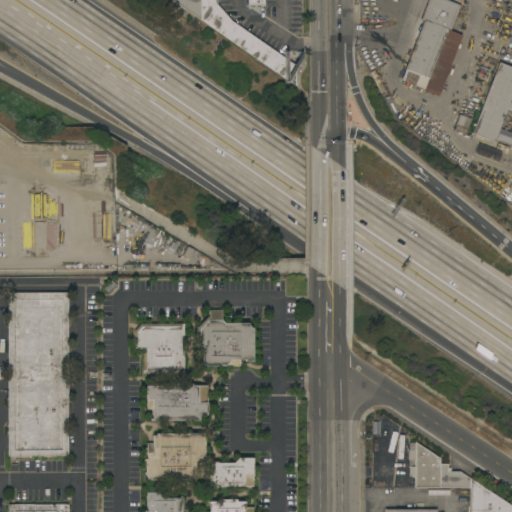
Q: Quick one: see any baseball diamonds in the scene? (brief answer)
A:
No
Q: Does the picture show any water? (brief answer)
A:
No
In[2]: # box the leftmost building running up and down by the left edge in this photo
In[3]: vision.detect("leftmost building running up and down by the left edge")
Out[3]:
[8,292,70,458]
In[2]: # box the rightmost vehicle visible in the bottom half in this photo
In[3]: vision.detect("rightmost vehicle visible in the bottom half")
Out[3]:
[476,340,498,356]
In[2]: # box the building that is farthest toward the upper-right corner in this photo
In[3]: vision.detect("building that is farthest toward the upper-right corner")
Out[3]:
[424,0,464,29]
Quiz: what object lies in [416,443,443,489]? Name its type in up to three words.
building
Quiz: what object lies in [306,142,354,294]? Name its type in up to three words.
overpass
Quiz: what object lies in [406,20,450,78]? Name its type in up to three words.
building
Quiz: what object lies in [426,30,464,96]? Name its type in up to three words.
shed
